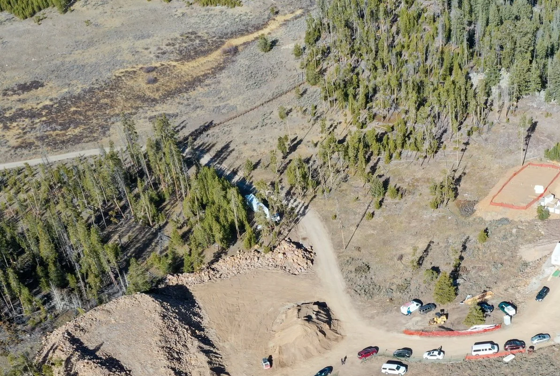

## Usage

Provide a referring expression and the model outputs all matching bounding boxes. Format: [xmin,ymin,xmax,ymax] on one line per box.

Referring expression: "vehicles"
[393,348,412,358]
[418,301,437,314]
[504,342,527,352]
[400,297,424,314]
[423,351,444,361]
[472,344,499,357]
[476,297,496,312]
[381,365,409,376]
[496,298,519,316]
[311,365,333,376]
[536,284,551,299]
[530,335,552,345]
[357,345,379,359]
[427,311,449,324]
